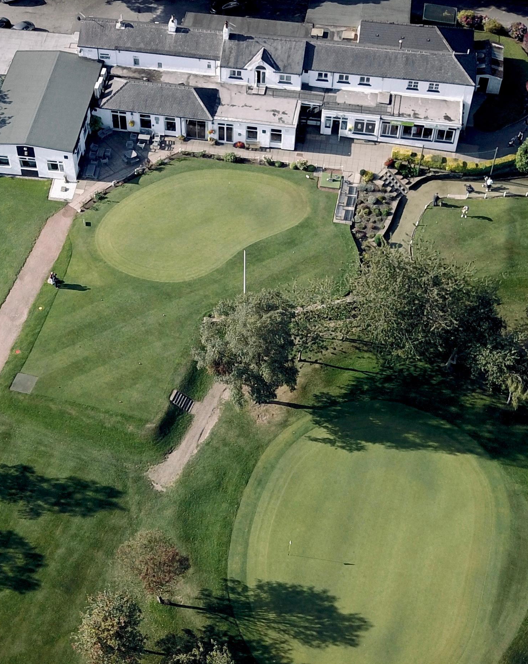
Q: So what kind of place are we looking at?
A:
golf course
